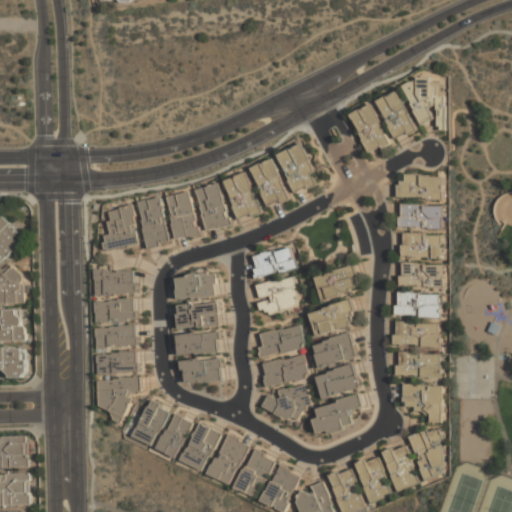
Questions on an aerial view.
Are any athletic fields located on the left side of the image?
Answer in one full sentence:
No, I see no athletic field on the left side of the image.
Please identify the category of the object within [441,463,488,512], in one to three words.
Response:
tennis court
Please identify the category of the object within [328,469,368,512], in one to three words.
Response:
house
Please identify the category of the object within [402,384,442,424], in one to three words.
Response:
house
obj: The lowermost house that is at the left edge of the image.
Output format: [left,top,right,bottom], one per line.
[0,474,32,507]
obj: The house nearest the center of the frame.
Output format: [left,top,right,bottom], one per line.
[252,248,296,278]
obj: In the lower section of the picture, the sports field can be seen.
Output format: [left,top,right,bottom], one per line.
[460,400,496,464]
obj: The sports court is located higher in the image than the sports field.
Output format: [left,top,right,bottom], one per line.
[457,357,494,399]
